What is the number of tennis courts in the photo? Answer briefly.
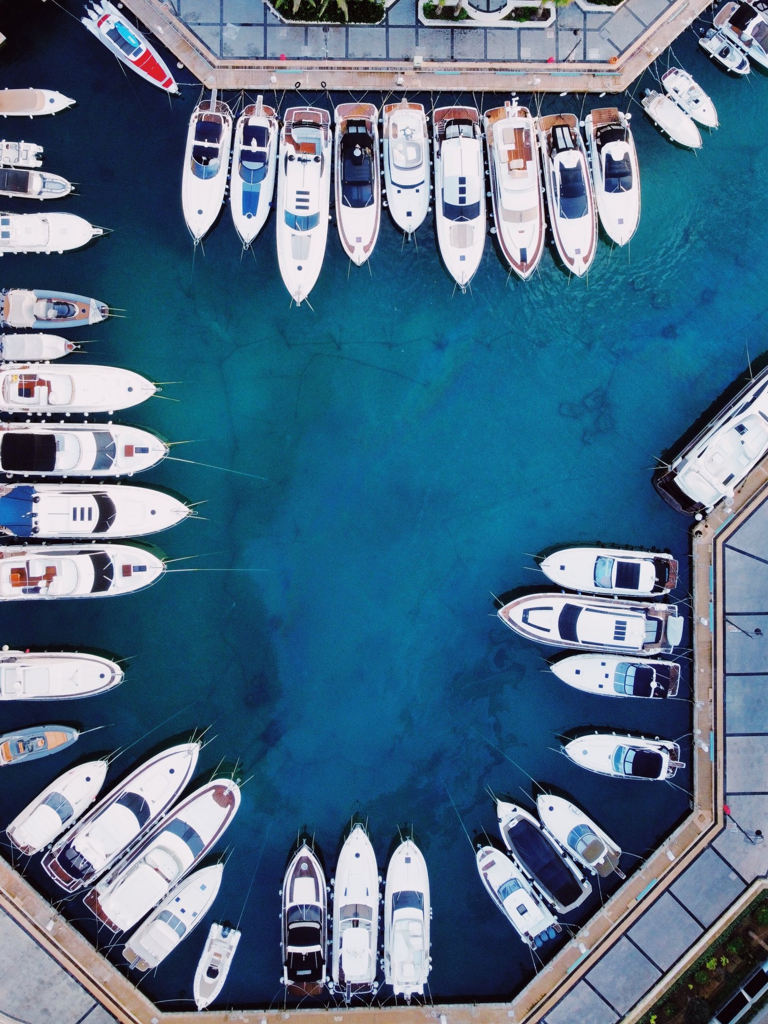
zero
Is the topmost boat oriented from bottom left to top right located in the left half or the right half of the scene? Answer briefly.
right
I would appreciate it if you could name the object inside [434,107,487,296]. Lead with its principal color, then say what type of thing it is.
white boat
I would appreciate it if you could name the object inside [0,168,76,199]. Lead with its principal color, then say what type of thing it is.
white boat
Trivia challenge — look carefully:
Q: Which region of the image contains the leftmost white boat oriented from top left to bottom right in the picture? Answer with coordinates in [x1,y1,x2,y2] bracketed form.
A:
[84,0,182,97]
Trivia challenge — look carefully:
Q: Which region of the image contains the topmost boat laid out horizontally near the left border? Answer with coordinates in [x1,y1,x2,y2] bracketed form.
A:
[0,88,76,117]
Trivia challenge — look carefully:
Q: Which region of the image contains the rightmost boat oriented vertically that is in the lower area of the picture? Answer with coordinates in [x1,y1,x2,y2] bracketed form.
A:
[667,613,684,648]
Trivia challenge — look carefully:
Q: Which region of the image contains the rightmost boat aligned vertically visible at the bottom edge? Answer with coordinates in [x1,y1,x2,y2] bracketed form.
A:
[385,834,432,1006]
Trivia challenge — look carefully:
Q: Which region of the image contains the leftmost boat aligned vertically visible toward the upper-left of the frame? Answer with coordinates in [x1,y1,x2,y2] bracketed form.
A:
[180,89,231,246]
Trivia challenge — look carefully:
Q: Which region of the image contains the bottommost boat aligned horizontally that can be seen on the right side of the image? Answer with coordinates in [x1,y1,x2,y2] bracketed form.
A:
[559,731,685,782]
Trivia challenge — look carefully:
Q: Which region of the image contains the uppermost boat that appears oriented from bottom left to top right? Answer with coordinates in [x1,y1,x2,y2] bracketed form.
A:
[656,360,768,511]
